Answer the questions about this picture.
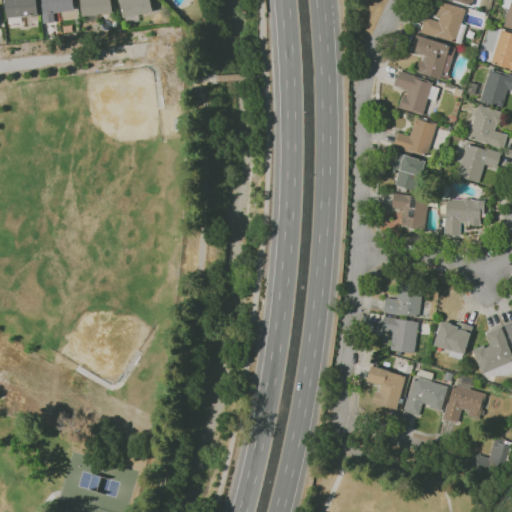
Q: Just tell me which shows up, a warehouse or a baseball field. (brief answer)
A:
baseball field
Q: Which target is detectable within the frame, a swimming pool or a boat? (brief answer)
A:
swimming pool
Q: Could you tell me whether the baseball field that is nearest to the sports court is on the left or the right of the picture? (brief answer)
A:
left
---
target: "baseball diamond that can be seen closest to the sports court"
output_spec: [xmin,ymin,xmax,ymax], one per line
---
[0,222,182,390]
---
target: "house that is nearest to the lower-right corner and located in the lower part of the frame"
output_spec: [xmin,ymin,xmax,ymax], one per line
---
[478,440,512,469]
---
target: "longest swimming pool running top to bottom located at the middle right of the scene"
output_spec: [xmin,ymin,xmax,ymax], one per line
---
[426,203,439,233]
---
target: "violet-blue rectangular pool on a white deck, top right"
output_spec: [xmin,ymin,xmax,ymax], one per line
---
[466,10,488,30]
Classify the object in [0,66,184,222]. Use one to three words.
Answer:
baseball field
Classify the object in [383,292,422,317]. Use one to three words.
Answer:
house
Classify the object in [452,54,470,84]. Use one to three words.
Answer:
swimming pool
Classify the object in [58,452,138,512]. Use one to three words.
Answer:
sports court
